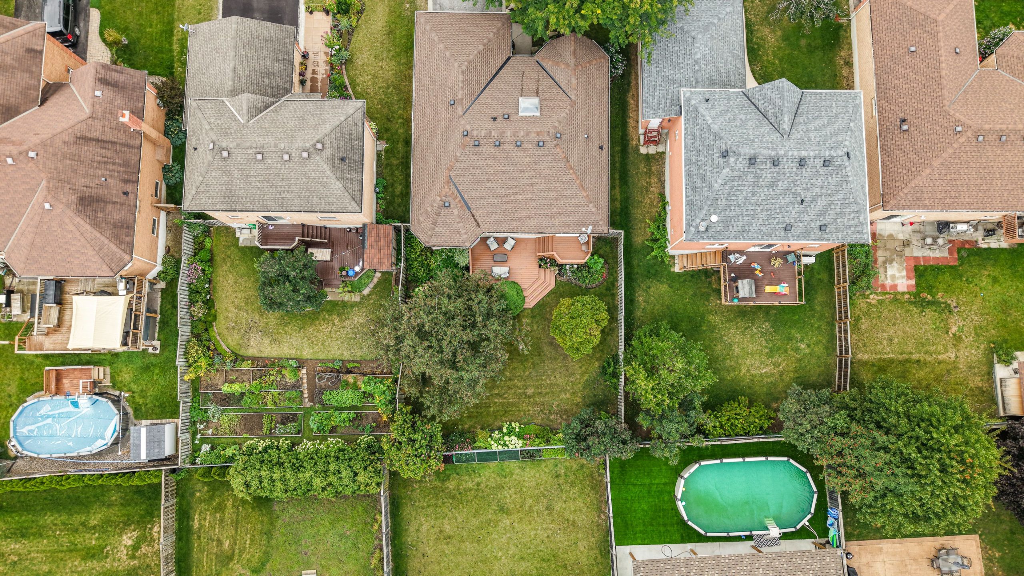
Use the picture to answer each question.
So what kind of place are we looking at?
residential area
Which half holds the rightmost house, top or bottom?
top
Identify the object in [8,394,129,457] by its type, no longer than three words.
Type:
swimming pool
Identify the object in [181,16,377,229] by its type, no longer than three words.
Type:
house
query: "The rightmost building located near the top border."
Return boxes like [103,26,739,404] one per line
[848,0,1024,223]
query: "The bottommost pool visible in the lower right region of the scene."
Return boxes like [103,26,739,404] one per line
[673,456,817,535]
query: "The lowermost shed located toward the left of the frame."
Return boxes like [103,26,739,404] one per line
[131,423,187,460]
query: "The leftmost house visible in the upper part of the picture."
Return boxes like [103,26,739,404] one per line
[0,17,178,279]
